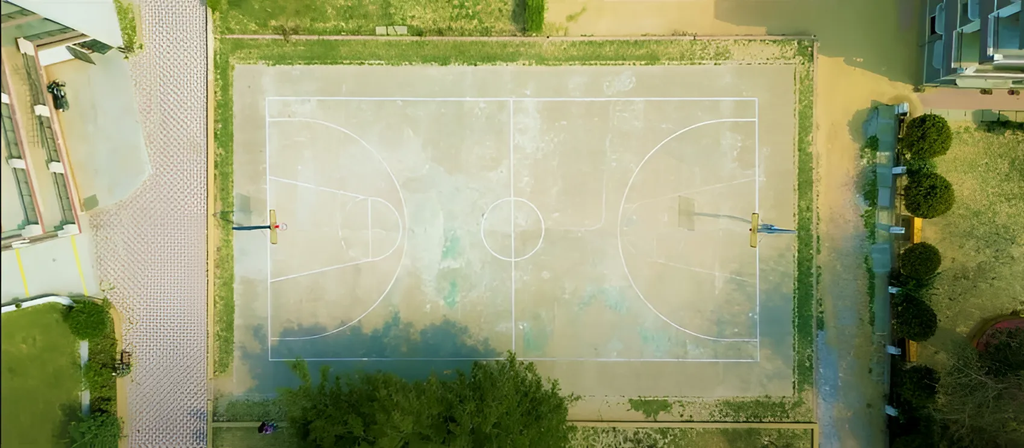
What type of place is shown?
sports ground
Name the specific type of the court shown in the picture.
basketball court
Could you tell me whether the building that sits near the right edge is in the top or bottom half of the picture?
top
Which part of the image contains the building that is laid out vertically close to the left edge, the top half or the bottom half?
top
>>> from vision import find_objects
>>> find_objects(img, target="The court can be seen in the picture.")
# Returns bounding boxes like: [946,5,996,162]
[233,64,796,397]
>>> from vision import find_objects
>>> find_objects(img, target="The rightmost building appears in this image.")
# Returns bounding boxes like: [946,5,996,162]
[922,0,1024,94]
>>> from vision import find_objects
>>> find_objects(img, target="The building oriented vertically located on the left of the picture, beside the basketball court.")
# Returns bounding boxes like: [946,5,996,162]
[0,0,115,256]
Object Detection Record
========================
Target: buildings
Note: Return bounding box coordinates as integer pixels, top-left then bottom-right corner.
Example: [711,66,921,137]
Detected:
[922,0,1024,94]
[0,0,115,256]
